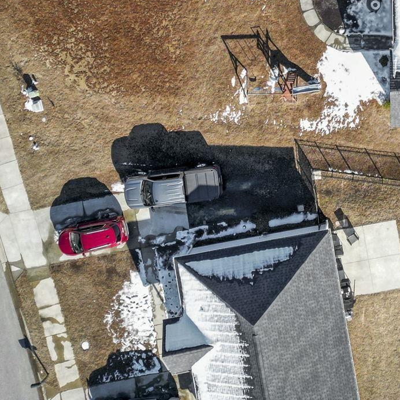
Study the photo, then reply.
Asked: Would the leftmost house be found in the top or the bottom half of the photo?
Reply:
bottom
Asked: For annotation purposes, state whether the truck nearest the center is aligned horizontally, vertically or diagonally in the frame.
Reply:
horizontally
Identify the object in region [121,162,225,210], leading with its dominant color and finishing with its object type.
gray truck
